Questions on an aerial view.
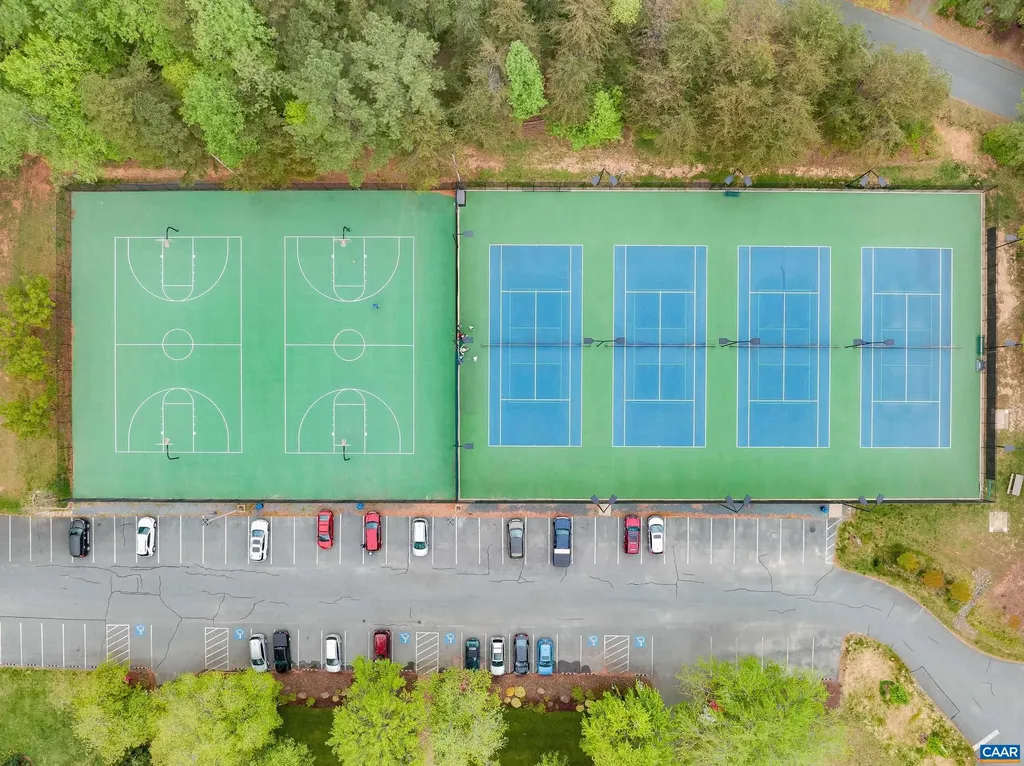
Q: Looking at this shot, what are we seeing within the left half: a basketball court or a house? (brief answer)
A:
basketball court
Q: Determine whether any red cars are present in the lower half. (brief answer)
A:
Yes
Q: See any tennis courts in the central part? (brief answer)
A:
Yes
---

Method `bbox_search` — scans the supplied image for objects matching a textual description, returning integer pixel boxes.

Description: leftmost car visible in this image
[67,518,89,559]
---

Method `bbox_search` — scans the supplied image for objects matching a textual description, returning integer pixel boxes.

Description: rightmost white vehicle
[648,515,667,556]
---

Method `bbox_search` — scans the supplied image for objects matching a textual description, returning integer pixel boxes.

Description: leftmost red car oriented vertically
[315,509,333,550]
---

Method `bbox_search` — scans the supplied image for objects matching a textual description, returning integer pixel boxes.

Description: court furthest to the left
[115,237,242,454]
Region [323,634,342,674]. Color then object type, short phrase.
white car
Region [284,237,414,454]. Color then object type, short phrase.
green basketball court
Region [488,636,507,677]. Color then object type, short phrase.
white car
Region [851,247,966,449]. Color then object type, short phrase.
blue tennis court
